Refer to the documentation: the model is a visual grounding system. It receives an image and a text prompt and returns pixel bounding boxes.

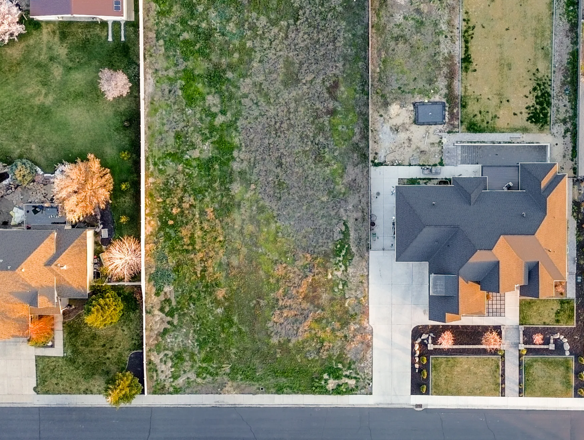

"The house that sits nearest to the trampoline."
[395,162,567,323]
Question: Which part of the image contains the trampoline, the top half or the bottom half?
top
